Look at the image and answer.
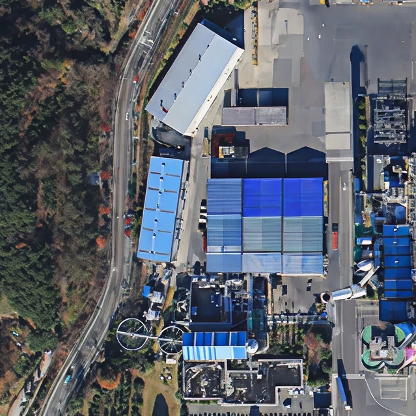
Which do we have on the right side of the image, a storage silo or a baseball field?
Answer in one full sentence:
The one visible on the right side of the image is a storage silo.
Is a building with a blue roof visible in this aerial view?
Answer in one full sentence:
Yes, looking at the shot, I can spot a building with a blue roof.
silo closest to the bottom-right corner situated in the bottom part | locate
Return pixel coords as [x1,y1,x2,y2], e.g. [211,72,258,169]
[362,327,406,371]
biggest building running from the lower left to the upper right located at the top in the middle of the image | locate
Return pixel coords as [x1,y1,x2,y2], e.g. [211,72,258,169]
[146,23,237,135]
